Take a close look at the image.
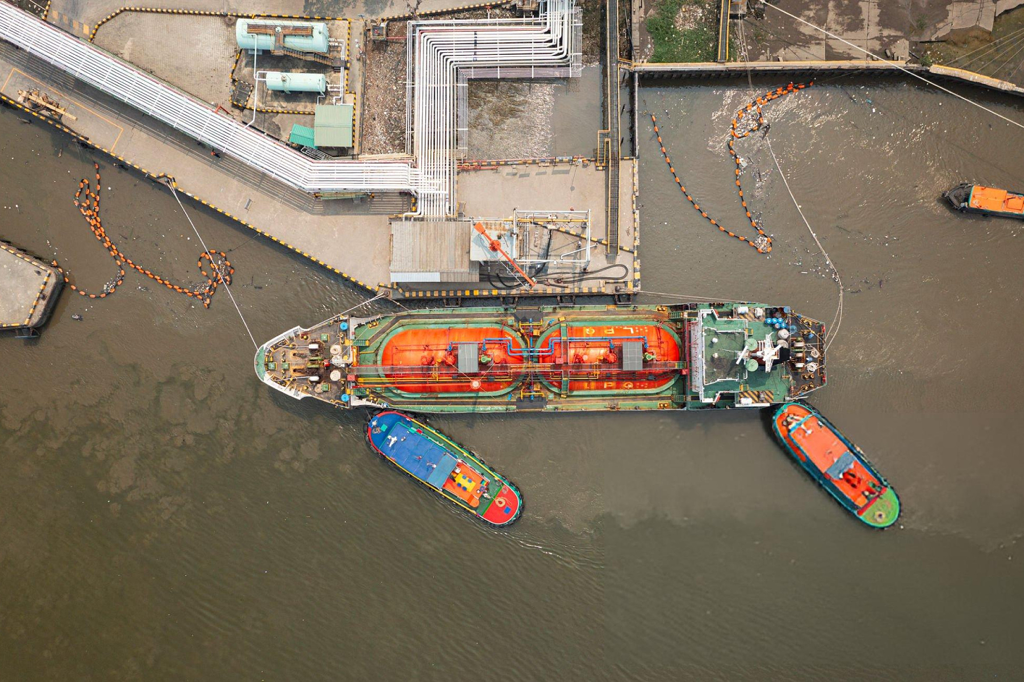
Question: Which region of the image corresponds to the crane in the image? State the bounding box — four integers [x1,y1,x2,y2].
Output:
[471,218,538,293]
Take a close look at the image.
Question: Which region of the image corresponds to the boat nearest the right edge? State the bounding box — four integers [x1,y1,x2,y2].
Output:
[938,179,1024,222]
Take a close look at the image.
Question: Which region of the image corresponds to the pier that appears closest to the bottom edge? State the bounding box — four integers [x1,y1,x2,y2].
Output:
[0,236,69,333]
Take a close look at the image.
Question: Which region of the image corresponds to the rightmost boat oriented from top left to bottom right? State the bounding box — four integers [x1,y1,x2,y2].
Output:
[772,396,904,532]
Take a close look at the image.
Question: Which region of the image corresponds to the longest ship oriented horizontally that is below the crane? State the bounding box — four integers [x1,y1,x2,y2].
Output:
[254,303,831,414]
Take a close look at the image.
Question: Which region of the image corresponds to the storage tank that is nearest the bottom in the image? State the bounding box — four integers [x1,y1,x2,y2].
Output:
[258,69,328,104]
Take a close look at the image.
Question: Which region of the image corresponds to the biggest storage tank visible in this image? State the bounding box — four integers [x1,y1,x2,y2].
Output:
[236,19,348,72]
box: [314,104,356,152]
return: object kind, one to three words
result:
shed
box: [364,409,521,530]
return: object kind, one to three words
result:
boat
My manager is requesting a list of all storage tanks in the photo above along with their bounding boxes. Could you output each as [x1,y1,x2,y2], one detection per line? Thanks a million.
[258,69,328,104]
[236,19,348,72]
